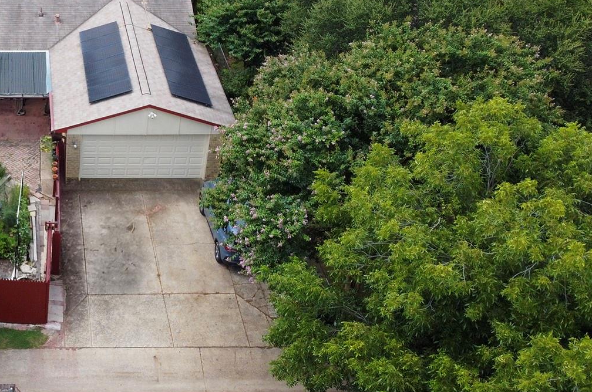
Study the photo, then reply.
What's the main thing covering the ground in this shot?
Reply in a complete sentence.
The bulk of the photo consists of trees.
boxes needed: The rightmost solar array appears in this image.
[150,23,212,108]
